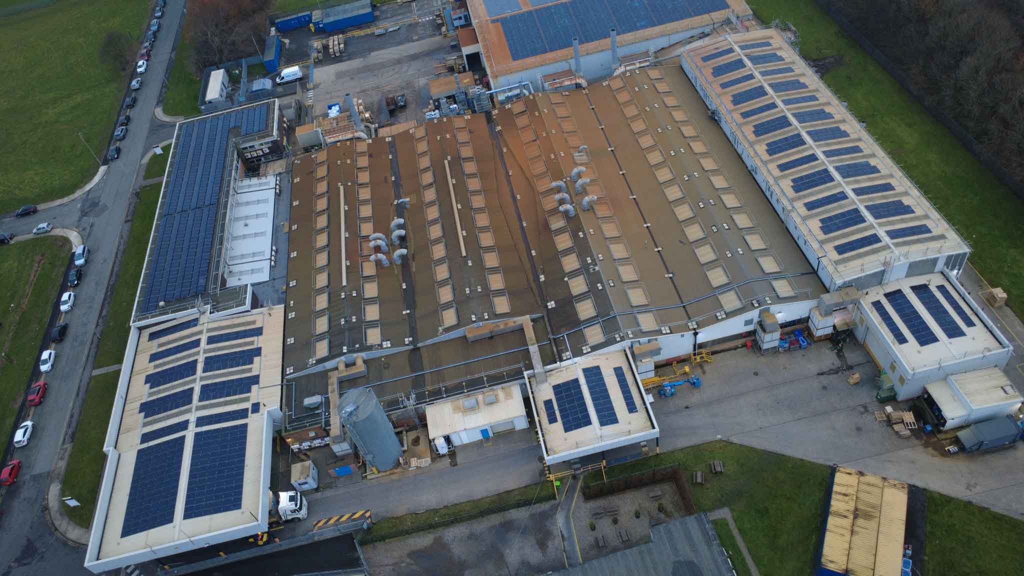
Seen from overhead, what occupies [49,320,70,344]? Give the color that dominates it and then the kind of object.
black car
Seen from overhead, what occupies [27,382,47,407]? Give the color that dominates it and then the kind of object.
red car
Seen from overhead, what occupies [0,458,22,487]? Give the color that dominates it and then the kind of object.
red car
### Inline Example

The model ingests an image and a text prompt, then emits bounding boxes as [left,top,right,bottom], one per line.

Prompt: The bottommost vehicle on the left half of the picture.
[246,531,267,547]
